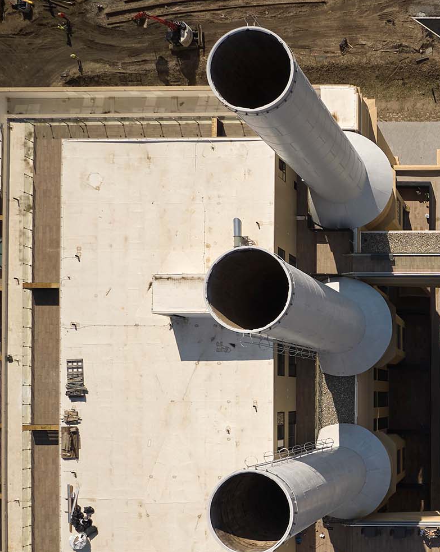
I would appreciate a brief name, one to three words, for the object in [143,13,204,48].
work vehicle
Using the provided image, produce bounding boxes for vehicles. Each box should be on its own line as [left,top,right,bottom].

[9,0,36,16]
[143,13,204,48]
